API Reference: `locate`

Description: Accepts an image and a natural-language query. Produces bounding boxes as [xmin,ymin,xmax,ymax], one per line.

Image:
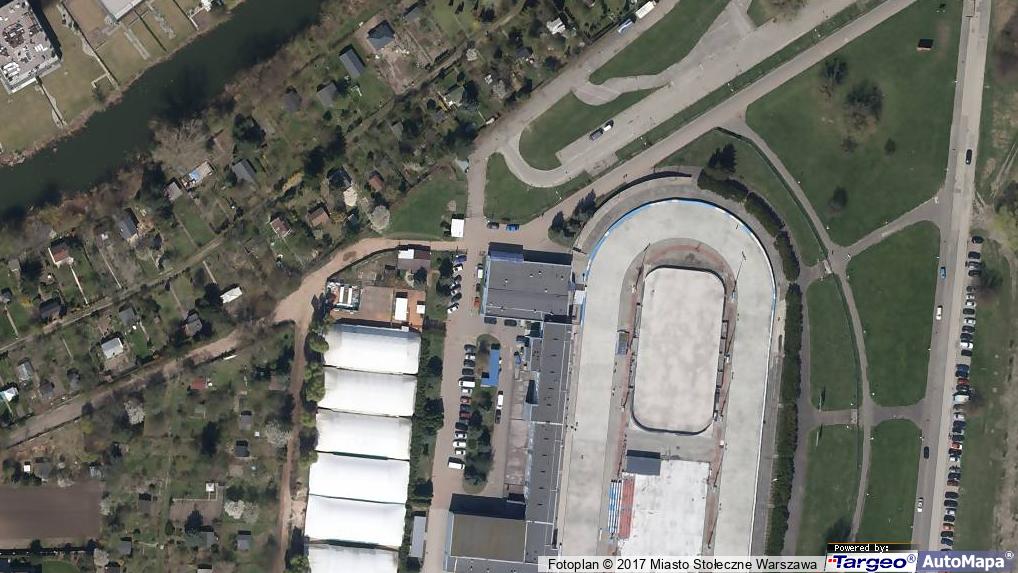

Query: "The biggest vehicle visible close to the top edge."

[635,2,657,19]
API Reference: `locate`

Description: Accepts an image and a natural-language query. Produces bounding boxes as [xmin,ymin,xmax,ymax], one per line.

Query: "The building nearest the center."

[482,252,572,324]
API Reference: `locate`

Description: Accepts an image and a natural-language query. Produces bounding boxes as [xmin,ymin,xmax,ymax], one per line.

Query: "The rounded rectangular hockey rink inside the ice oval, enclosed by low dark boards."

[632,265,728,435]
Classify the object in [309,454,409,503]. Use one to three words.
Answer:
building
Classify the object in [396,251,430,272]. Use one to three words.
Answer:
building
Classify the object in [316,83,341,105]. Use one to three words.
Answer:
house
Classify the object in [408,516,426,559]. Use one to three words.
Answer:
shed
